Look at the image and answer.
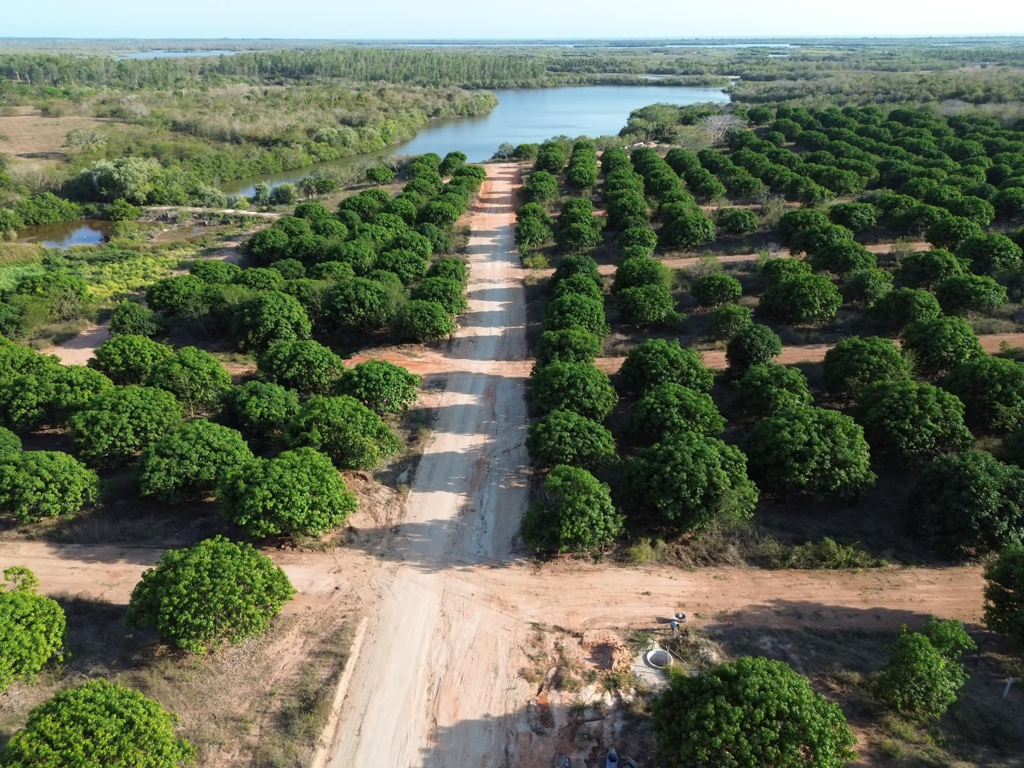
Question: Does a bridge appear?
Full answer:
No, this view has no bridge in it.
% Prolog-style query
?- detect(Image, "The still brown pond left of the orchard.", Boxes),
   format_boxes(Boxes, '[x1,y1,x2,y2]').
[14,219,141,250]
